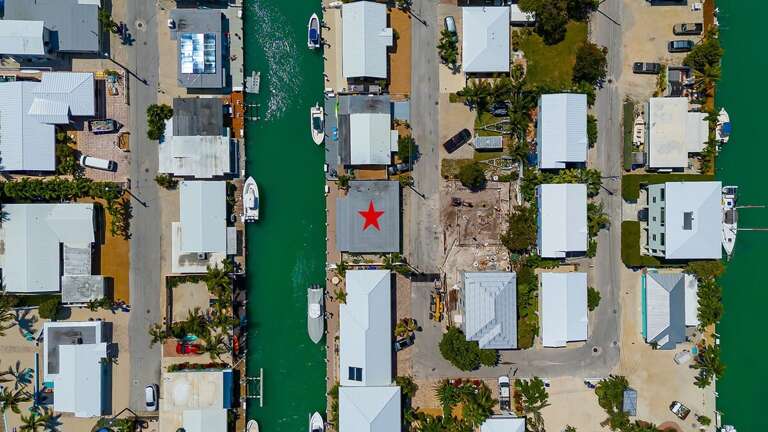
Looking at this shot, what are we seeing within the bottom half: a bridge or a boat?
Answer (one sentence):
Visible within the bottom half is a boat.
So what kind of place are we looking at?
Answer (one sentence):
This image shows a residential area.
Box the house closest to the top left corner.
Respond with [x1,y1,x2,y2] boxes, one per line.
[0,0,105,56]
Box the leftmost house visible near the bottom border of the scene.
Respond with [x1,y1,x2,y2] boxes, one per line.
[43,320,106,416]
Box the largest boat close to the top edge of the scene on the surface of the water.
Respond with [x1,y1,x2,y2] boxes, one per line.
[308,14,326,52]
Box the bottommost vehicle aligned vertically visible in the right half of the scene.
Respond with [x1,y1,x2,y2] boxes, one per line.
[498,374,512,410]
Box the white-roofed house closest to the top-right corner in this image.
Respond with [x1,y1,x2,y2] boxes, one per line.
[644,97,710,173]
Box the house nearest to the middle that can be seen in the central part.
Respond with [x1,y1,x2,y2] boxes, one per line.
[337,181,400,252]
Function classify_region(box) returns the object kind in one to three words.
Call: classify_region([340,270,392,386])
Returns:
house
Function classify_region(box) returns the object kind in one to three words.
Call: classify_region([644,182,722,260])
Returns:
house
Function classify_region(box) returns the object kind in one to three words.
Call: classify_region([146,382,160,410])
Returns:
vehicle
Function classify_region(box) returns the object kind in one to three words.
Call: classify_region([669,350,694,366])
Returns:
boat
